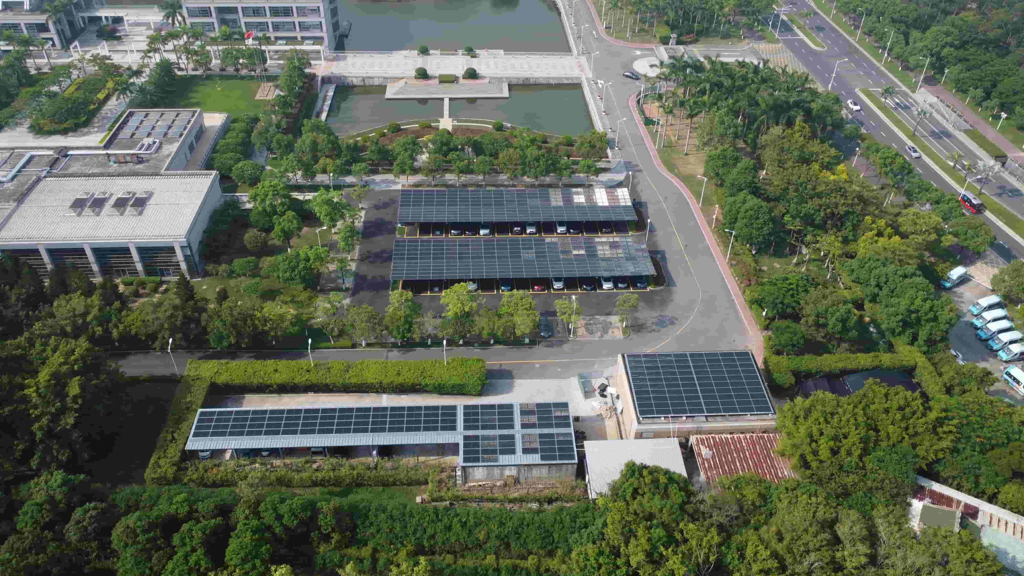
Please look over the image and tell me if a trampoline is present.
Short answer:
No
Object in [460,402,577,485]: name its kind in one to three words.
shed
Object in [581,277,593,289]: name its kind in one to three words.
vehicle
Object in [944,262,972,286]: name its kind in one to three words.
vehicle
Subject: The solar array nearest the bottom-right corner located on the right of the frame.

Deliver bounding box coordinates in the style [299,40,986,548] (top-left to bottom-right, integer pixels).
[624,351,776,418]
